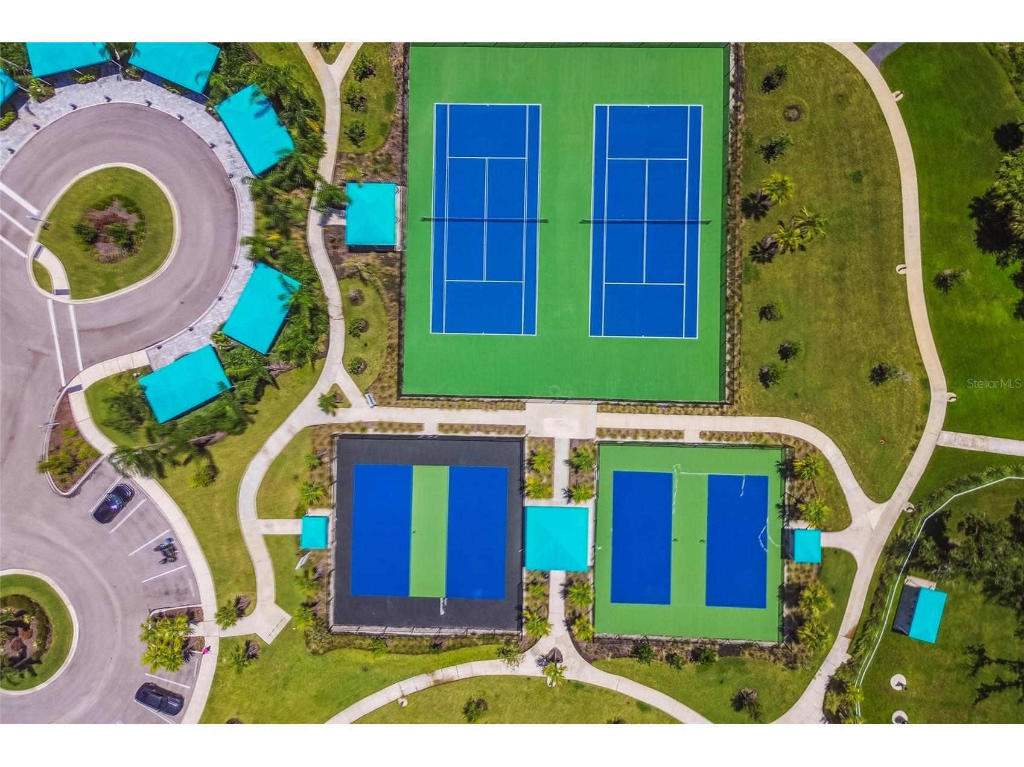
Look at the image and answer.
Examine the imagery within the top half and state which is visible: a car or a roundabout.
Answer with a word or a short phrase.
roundabout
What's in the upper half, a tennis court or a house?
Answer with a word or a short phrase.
tennis court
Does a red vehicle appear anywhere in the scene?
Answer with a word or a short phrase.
No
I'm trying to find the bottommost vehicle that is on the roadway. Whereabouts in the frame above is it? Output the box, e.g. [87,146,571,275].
[132,682,186,715]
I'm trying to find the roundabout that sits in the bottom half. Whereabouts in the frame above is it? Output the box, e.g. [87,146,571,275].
[0,569,78,696]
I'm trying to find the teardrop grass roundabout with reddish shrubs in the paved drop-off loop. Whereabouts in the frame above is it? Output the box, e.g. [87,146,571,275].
[26,162,182,304]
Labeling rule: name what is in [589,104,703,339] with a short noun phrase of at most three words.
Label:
tennis court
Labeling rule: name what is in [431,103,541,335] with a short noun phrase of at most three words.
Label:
tennis court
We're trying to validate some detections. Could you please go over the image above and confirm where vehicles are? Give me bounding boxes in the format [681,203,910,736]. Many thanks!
[132,682,186,715]
[154,539,179,564]
[91,482,137,526]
